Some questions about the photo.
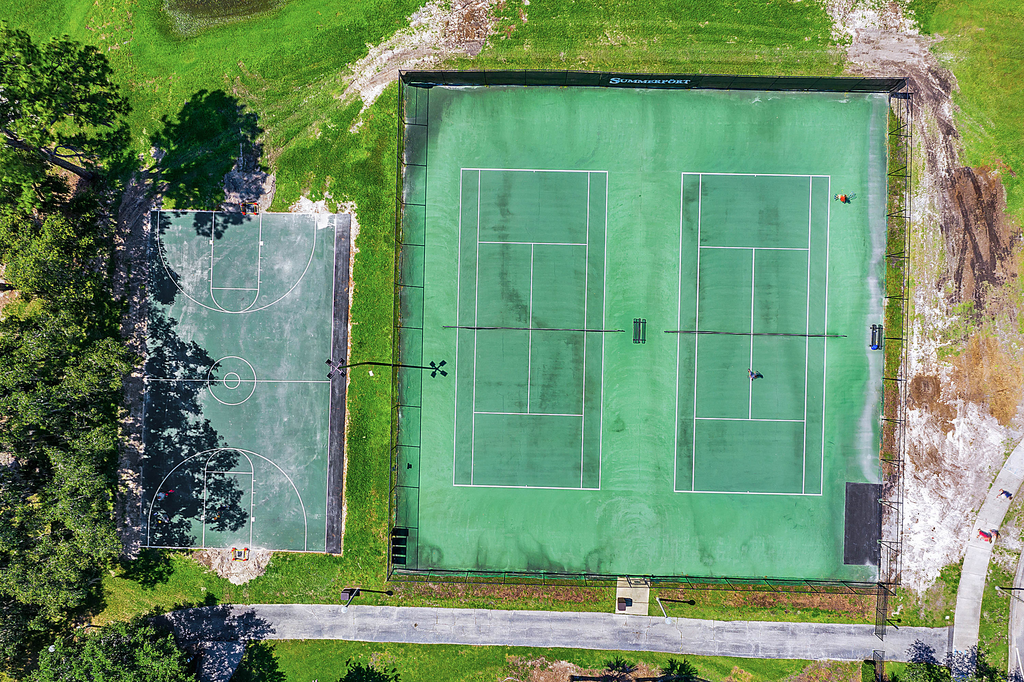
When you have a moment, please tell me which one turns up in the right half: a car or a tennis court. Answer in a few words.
tennis court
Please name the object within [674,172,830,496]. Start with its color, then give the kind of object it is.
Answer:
green tennis court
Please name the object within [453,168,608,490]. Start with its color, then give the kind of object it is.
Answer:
green tennis court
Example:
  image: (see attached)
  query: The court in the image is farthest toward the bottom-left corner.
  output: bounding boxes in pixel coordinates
[140,209,350,554]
